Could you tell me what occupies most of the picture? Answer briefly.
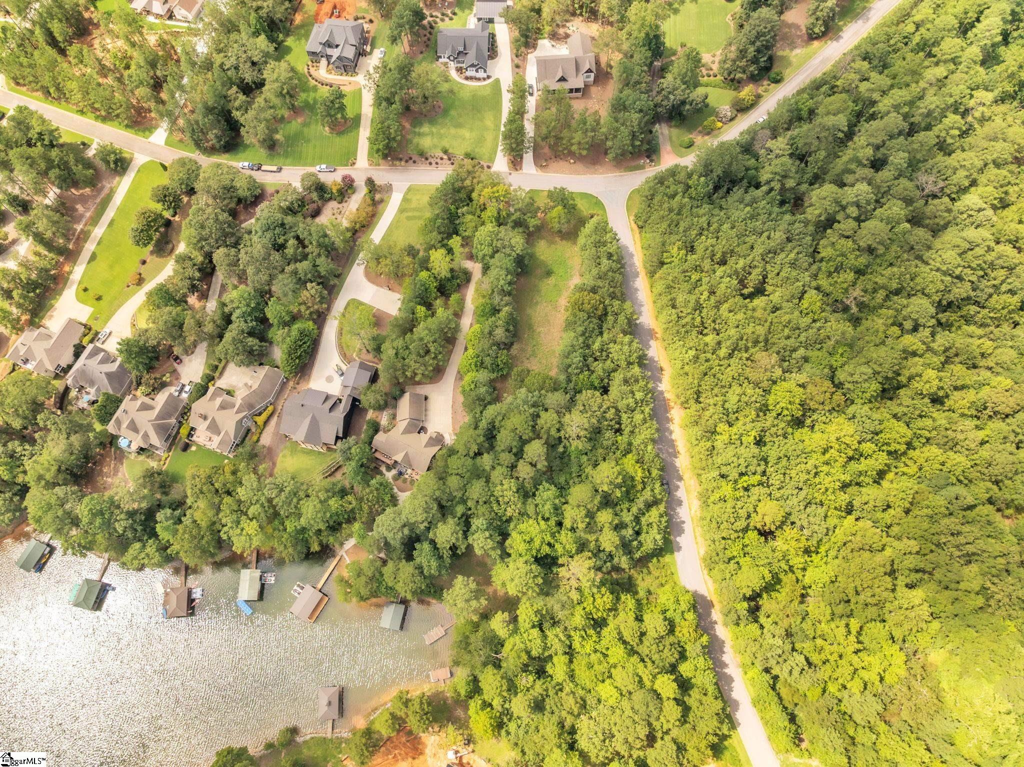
trees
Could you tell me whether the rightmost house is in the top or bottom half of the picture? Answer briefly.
top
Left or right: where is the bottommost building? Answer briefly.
left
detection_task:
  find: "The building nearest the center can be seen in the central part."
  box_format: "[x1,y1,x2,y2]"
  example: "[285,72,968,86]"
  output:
[371,392,444,479]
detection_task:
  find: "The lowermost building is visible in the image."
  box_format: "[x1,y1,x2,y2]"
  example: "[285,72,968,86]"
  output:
[318,686,344,735]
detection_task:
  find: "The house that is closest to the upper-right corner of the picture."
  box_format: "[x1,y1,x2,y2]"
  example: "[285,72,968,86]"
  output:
[535,32,596,97]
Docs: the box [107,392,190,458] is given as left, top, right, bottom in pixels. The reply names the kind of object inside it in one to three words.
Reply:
house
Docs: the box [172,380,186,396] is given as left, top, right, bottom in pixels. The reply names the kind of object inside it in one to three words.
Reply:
car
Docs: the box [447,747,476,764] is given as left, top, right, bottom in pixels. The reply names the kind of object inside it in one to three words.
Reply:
work vehicle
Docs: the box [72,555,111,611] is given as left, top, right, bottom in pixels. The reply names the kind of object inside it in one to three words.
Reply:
building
